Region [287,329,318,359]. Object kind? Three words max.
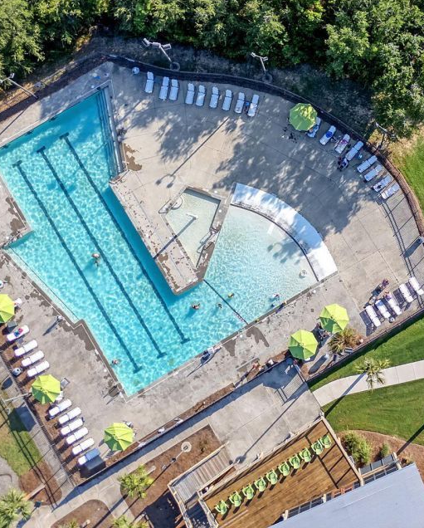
umbrella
